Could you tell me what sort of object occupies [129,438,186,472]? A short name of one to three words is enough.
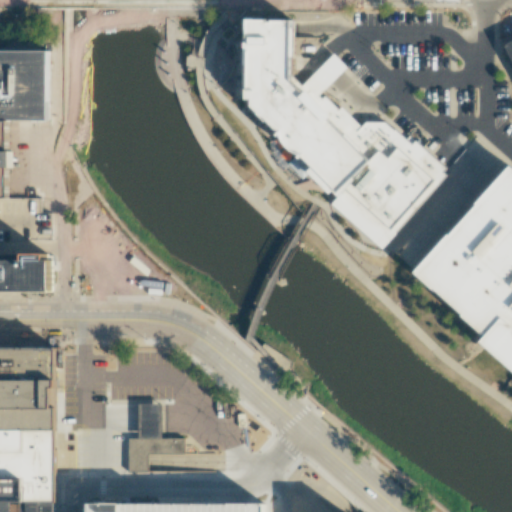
building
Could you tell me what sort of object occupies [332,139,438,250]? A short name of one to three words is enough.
building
